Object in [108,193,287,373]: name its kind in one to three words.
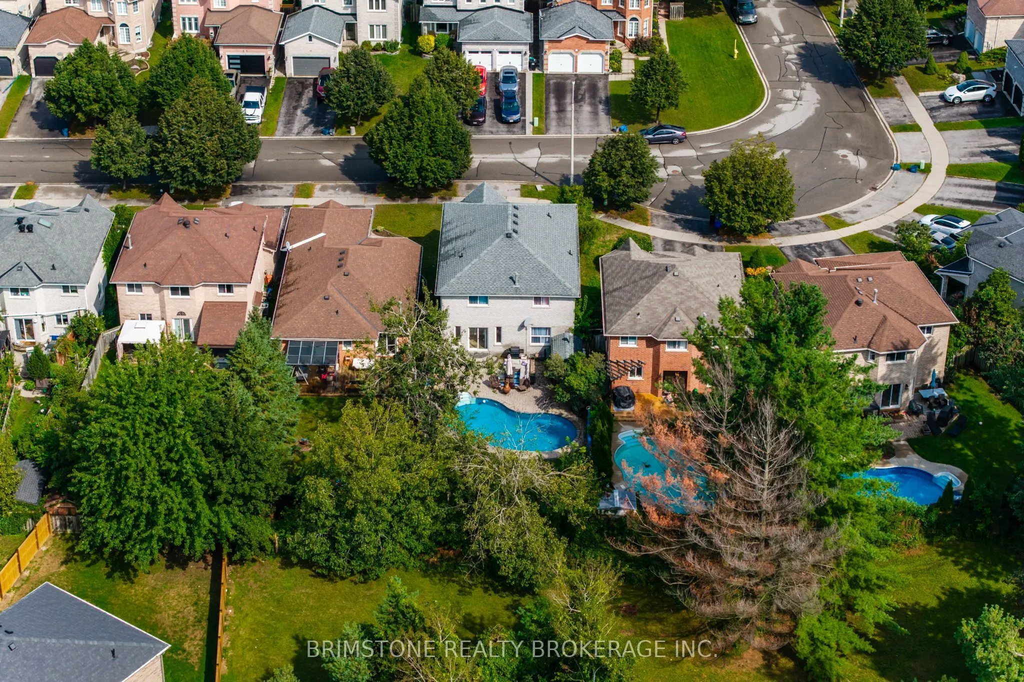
house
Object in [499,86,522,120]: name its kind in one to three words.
car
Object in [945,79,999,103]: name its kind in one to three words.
car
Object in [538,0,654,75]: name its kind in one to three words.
house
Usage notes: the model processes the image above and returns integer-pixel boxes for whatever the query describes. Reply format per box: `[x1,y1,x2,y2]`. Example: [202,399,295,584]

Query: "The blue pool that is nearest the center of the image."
[451,396,580,453]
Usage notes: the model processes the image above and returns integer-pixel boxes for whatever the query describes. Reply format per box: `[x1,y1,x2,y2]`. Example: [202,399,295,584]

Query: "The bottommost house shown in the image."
[0,575,173,682]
